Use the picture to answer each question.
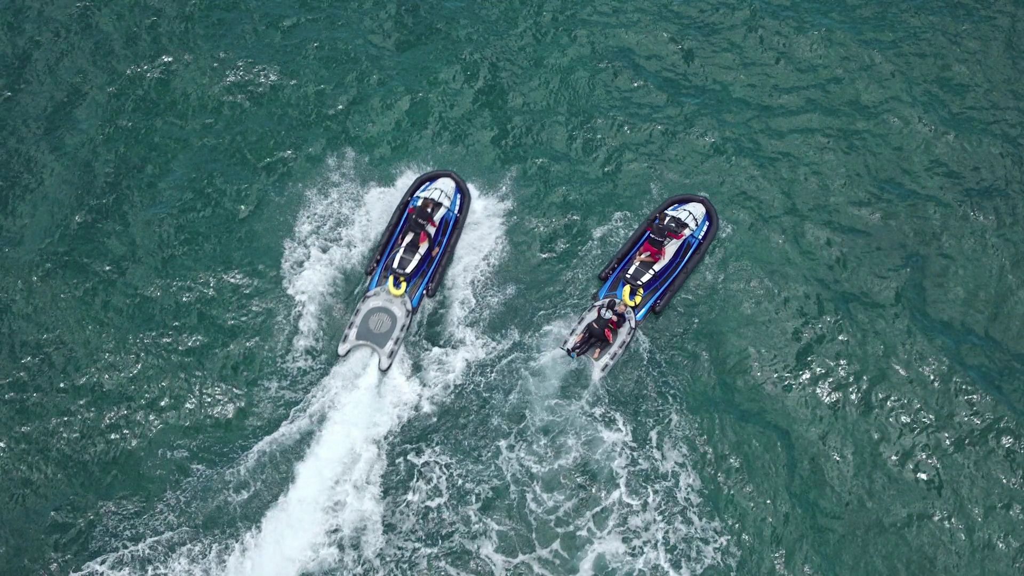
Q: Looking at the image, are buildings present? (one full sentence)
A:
No, I find no building anywhere in the image.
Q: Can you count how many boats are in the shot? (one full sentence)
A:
In total, 2 boats can be seen.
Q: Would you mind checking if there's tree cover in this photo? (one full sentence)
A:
No, there is no tree cover in the image.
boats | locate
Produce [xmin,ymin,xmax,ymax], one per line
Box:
[601,194,715,323]
[362,172,468,315]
